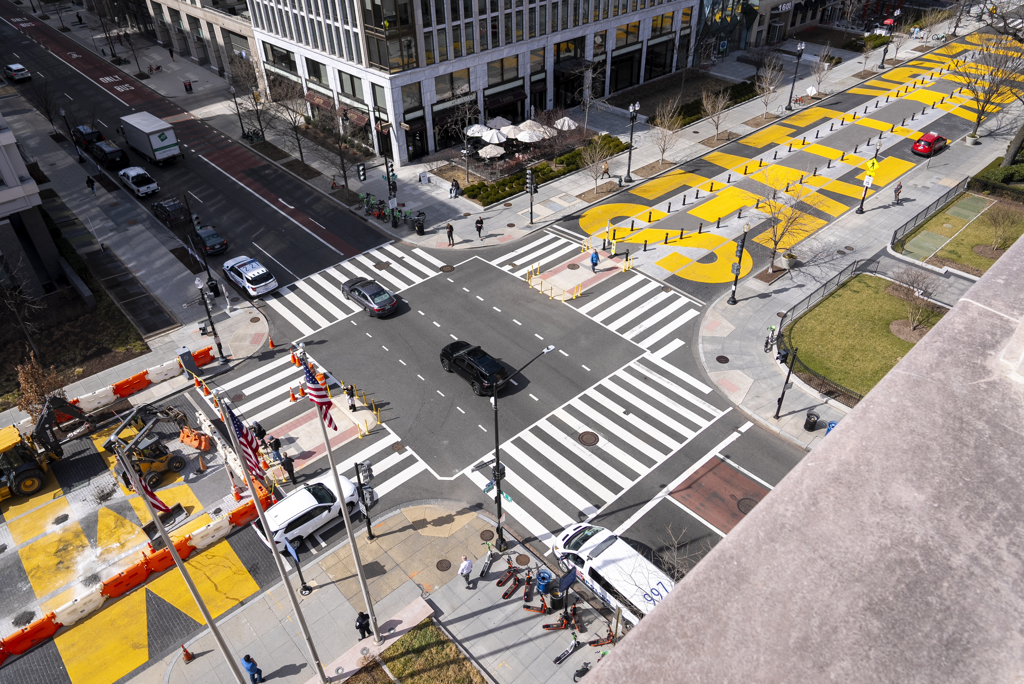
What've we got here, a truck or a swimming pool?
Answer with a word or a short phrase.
truck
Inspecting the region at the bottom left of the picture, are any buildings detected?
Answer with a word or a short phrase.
No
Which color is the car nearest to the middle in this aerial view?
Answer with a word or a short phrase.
black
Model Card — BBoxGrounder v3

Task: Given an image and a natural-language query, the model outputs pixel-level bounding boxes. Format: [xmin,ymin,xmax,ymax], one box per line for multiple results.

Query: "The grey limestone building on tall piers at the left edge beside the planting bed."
[0,138,42,218]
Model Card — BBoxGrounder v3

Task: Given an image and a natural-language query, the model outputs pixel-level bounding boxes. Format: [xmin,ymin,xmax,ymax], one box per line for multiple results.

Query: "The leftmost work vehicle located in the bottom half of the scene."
[0,399,113,499]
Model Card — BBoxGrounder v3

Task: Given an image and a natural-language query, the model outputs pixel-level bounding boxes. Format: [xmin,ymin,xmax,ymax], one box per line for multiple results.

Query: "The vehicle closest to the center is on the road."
[438,343,512,401]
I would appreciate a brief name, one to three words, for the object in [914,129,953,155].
car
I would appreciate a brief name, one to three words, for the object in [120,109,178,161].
truck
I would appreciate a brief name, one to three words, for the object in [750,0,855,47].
building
